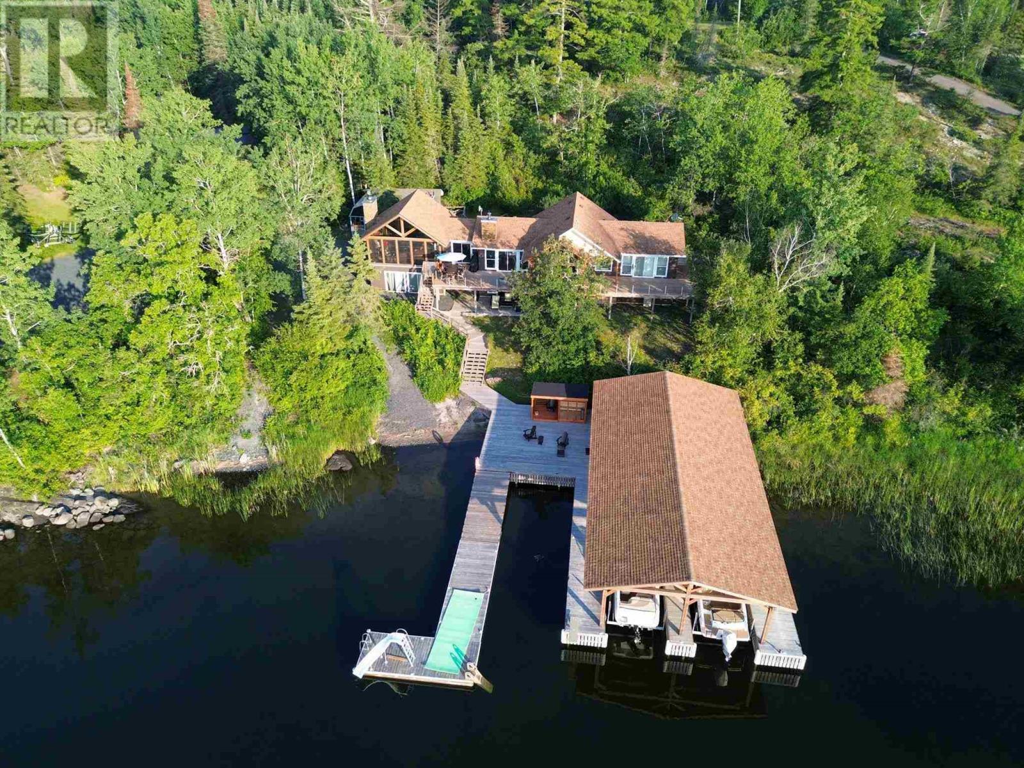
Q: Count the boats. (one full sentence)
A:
My tally gives 2 boats in this view.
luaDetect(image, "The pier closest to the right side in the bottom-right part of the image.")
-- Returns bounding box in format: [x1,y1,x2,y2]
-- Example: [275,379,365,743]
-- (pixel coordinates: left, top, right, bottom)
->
[745,601,810,671]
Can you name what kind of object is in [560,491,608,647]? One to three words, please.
pier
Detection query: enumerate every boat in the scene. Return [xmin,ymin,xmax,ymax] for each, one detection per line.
[612,588,662,654]
[694,588,749,664]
